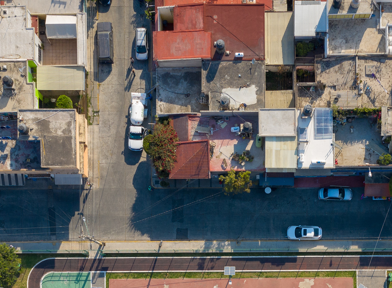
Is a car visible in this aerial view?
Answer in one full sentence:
Yes, this view includes a car.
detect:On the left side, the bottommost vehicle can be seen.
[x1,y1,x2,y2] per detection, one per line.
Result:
[127,94,148,151]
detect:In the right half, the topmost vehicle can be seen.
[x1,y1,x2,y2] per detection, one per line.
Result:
[318,186,352,203]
